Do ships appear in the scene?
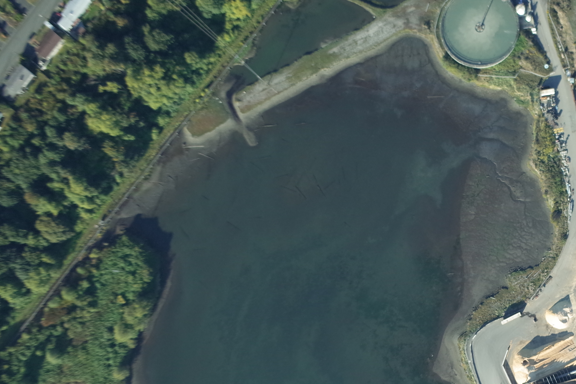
No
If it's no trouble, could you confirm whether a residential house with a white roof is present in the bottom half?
No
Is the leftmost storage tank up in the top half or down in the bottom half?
top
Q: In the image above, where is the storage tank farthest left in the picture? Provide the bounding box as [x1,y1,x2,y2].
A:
[441,0,520,69]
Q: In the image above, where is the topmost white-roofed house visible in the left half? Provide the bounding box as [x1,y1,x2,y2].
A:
[56,0,95,32]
